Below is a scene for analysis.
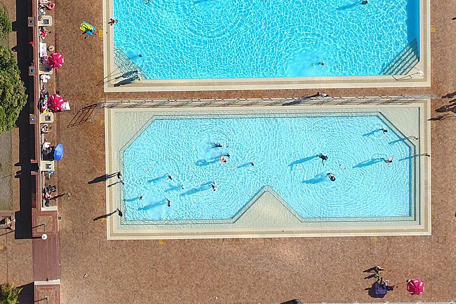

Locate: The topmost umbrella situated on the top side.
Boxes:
[47,51,64,69]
